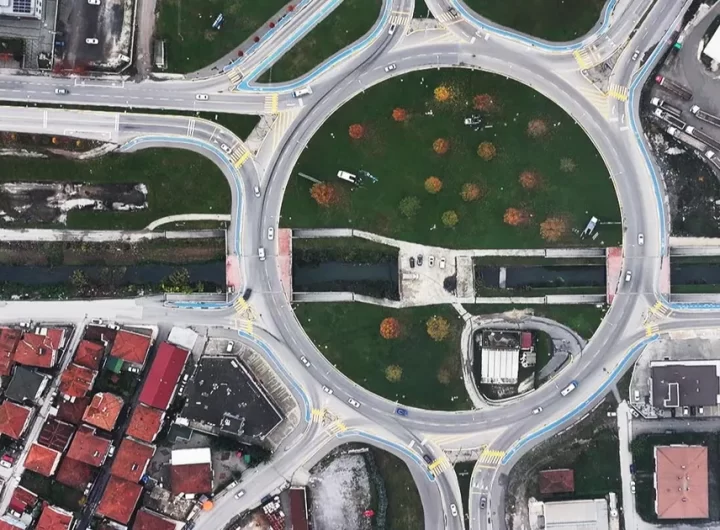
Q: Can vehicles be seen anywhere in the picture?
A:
Yes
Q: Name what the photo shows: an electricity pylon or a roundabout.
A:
roundabout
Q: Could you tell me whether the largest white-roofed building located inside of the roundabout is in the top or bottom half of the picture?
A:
bottom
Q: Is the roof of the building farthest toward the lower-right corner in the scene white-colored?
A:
No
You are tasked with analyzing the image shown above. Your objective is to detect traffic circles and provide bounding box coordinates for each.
[238,14,661,460]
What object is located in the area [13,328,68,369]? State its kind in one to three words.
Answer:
house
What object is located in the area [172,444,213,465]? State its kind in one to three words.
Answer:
building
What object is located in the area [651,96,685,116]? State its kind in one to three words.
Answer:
vehicle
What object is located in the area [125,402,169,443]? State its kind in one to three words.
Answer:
house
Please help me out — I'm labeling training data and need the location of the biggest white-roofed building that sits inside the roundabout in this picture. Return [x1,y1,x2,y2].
[480,349,518,387]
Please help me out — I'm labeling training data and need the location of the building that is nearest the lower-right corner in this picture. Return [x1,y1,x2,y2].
[651,444,708,519]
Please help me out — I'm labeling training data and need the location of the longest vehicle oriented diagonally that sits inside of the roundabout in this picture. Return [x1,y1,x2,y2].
[560,382,579,396]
